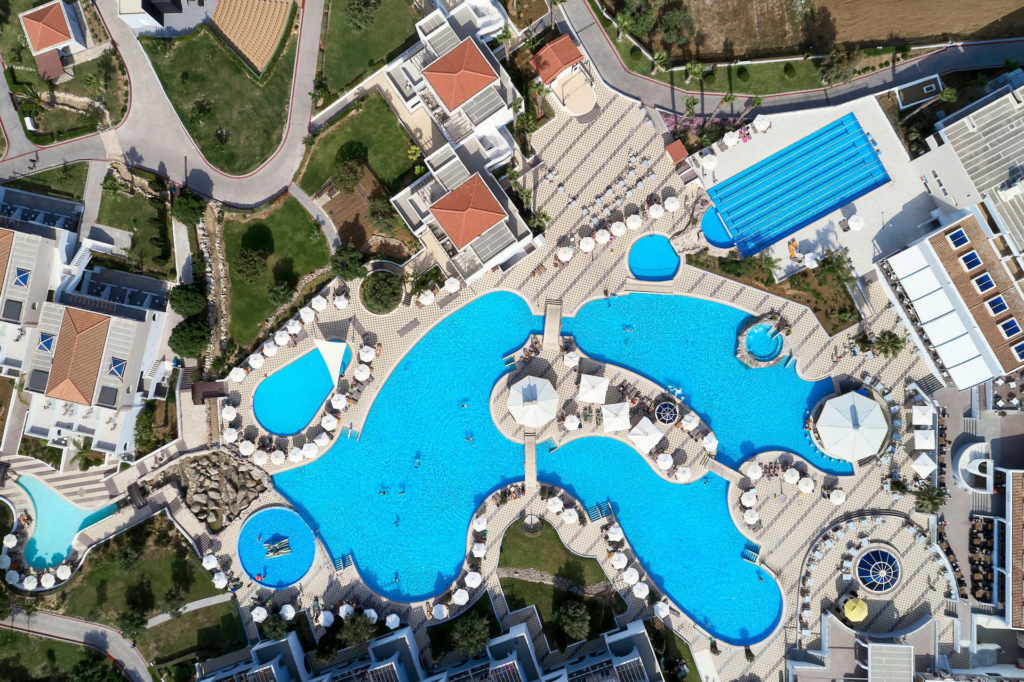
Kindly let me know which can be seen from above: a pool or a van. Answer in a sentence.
Visible in the photo is a pool.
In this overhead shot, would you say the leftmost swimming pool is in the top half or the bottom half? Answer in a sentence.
You can find the leftmost swimming pool in the bottom half.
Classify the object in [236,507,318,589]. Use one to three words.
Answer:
swimming pool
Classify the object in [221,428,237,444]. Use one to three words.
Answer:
umbrella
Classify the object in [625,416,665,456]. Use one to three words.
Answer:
tent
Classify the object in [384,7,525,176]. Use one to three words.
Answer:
house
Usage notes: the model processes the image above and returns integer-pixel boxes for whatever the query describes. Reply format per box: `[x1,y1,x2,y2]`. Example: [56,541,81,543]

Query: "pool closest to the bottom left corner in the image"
[12,472,123,572]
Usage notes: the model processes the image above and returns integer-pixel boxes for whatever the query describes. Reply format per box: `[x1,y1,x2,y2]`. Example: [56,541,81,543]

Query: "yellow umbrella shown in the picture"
[844,598,868,622]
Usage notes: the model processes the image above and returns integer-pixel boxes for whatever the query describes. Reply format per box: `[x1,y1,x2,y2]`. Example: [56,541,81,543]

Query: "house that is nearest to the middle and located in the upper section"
[392,144,533,284]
